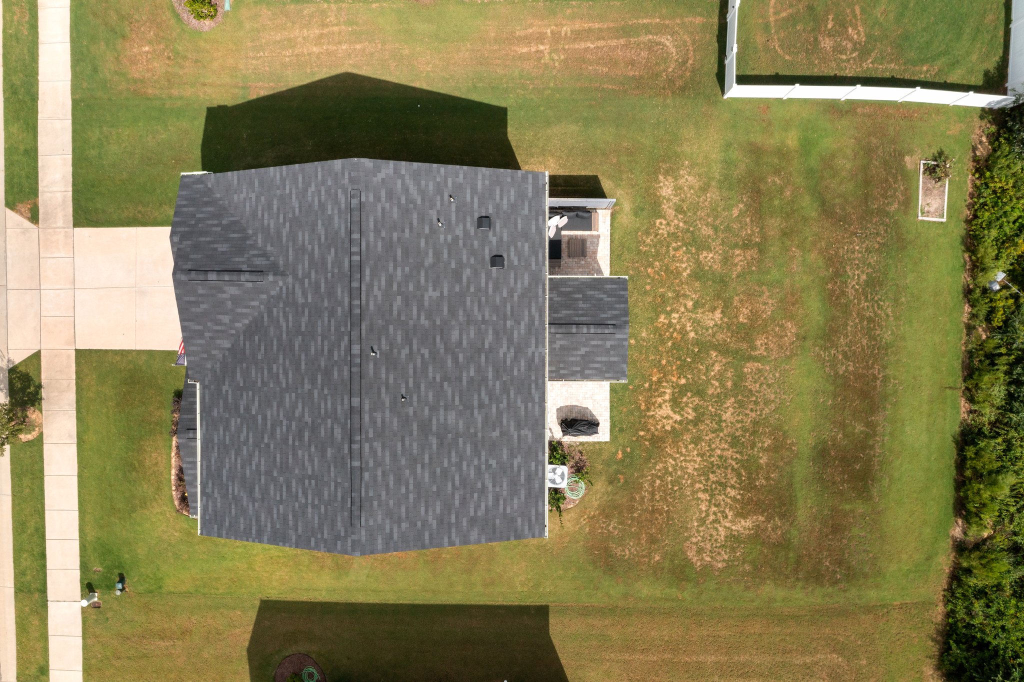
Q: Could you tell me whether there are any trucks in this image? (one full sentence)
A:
No, there's no truck here.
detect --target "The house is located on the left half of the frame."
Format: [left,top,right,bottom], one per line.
[170,158,630,555]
